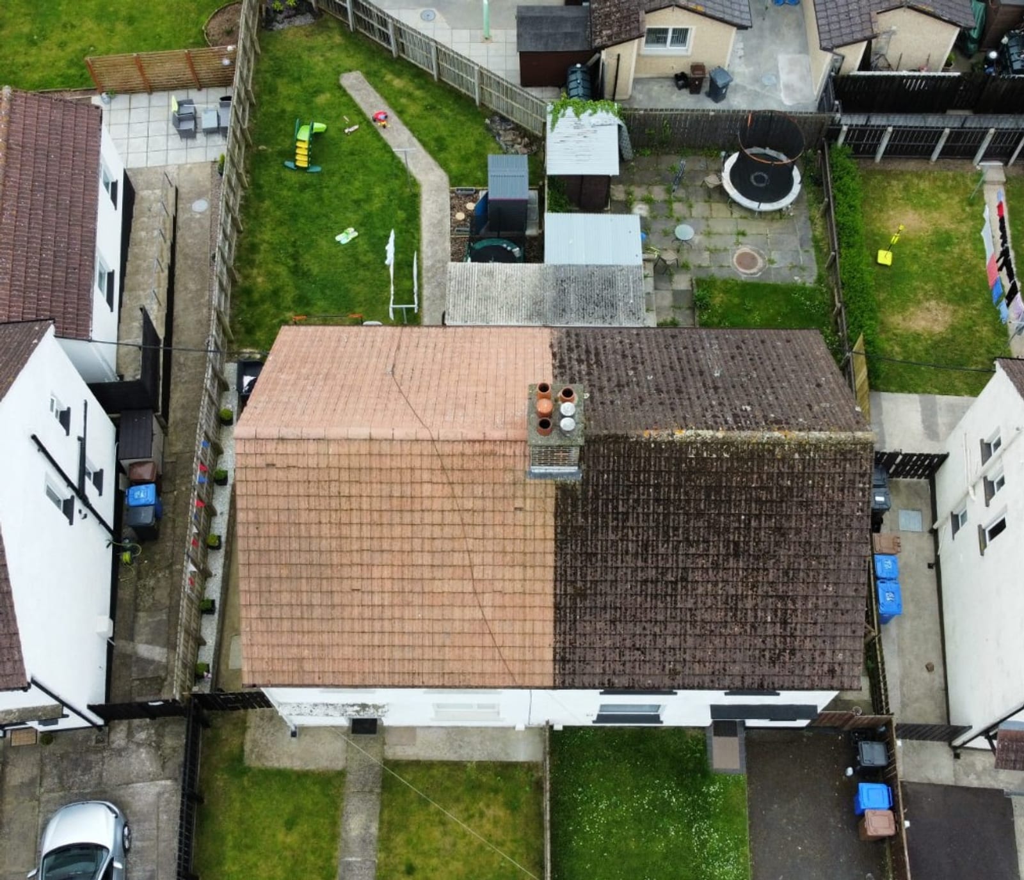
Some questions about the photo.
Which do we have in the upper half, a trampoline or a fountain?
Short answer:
trampoline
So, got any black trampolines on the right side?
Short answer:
Yes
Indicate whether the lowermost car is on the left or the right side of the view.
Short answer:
left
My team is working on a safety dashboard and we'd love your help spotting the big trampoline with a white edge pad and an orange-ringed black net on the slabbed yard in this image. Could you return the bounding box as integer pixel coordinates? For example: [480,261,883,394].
[723,113,804,225]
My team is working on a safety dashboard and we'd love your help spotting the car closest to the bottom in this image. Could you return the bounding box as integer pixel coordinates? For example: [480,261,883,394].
[24,796,129,880]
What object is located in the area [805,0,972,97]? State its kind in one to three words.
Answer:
building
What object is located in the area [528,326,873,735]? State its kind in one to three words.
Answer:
house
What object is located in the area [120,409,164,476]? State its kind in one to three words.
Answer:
building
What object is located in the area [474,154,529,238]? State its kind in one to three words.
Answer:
shed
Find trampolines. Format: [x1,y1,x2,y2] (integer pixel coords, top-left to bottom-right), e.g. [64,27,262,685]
[471,229,524,264]
[723,113,804,225]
